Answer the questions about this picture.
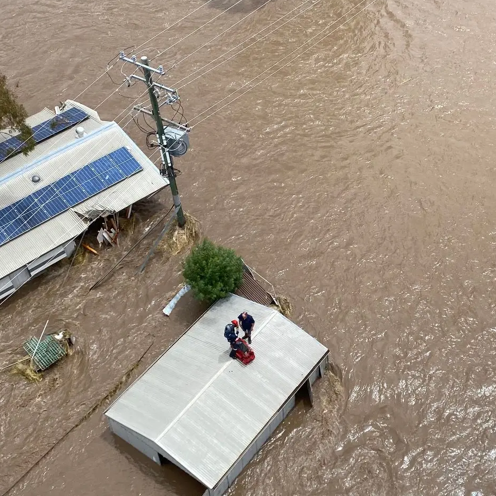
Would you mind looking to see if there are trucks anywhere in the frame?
No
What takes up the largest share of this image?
water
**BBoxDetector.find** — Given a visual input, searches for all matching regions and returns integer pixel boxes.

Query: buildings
[0,93,167,301]
[103,290,331,496]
